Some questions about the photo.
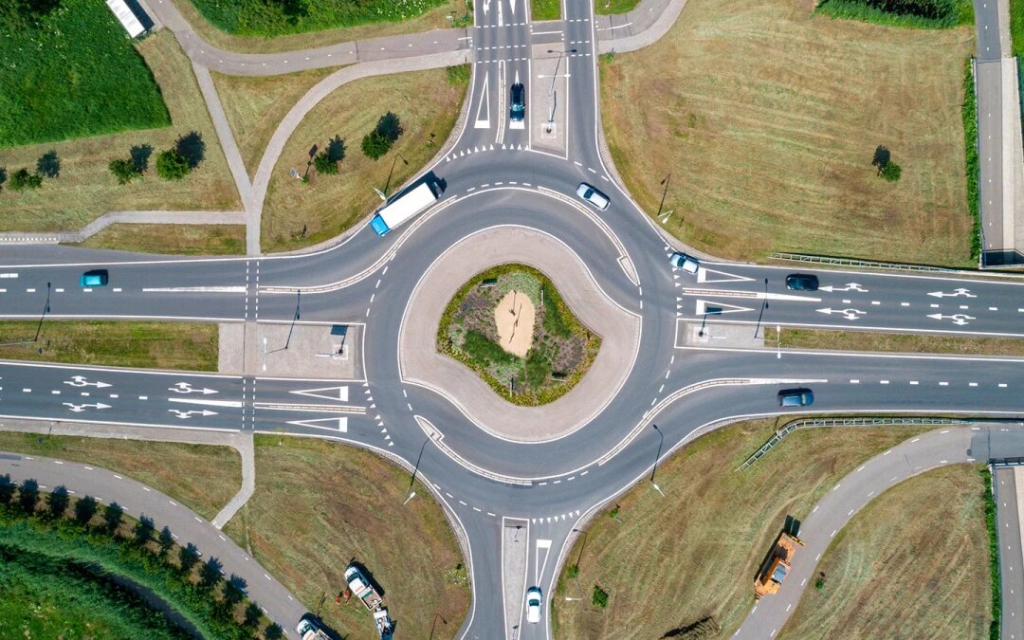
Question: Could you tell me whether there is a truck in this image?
Yes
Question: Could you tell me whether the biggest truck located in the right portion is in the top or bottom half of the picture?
bottom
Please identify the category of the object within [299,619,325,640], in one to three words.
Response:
truck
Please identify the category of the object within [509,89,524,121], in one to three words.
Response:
car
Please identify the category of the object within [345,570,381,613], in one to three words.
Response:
truck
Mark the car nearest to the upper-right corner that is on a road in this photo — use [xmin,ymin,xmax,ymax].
[785,276,817,291]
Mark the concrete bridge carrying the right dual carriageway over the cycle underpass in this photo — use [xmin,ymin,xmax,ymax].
[974,57,1024,268]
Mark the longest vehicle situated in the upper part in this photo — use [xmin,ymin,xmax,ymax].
[368,182,445,239]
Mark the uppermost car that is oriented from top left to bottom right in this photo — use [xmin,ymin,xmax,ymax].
[576,185,609,210]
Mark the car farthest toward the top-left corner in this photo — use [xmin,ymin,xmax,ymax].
[80,273,108,287]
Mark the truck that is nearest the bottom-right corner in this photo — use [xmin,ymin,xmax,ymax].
[759,534,811,603]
